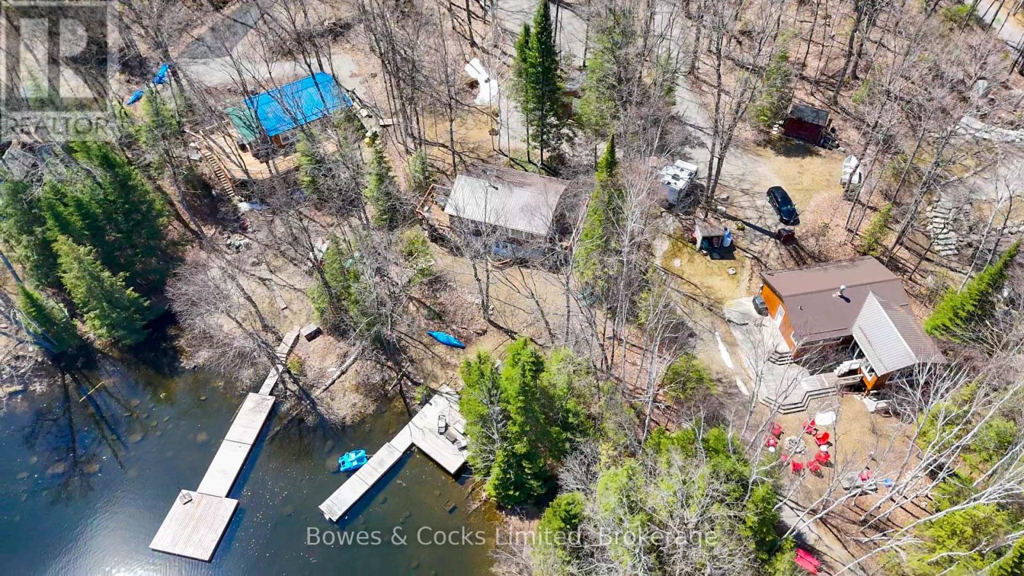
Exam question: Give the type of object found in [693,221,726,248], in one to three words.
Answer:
shed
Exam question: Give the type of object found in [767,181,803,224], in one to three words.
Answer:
car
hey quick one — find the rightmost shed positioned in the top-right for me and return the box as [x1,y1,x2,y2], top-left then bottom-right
[788,100,839,151]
